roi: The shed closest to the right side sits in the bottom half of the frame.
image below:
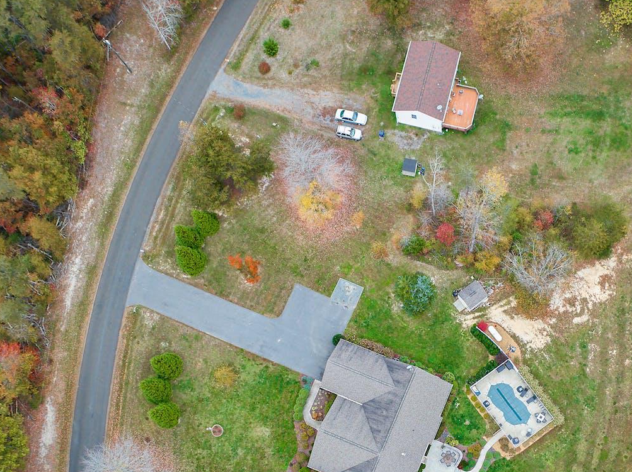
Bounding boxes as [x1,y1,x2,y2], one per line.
[455,281,488,312]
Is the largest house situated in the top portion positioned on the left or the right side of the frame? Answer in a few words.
right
